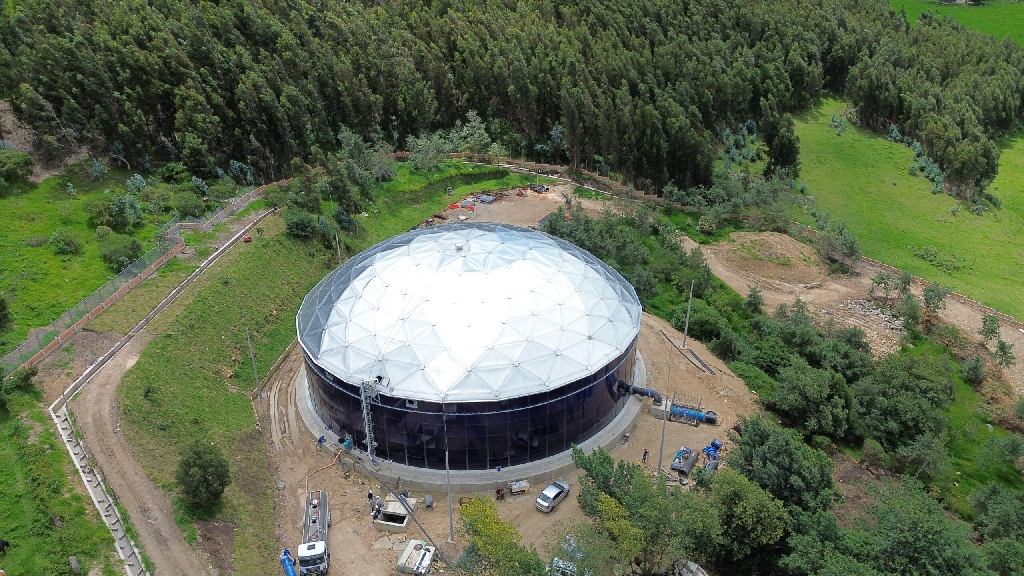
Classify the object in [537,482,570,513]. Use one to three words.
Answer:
car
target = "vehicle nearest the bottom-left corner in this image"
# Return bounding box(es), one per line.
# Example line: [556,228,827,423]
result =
[298,497,334,575]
